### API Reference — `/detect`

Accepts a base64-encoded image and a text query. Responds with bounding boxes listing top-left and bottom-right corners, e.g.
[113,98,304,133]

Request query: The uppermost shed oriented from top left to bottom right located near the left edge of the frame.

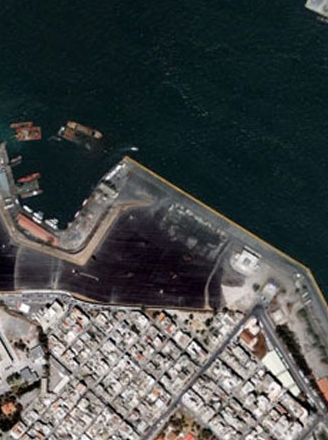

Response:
[16,214,59,245]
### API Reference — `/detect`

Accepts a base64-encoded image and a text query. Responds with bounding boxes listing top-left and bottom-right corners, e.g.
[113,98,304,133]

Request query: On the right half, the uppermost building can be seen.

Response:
[235,252,258,275]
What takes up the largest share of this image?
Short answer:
water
